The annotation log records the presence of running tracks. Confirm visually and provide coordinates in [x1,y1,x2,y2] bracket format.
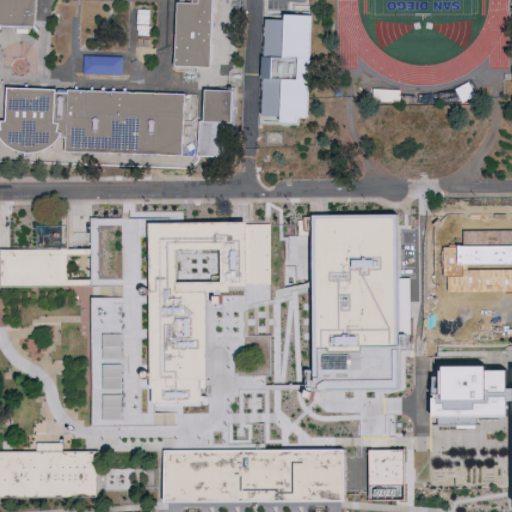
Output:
[338,0,510,84]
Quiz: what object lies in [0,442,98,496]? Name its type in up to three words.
building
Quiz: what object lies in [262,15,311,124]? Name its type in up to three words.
building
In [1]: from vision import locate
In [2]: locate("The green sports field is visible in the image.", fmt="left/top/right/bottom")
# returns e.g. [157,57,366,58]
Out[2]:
[358,0,490,65]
